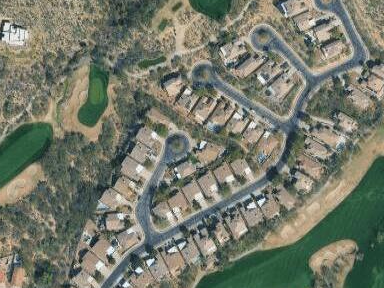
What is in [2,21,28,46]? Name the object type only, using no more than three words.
house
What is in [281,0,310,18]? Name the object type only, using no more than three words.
house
